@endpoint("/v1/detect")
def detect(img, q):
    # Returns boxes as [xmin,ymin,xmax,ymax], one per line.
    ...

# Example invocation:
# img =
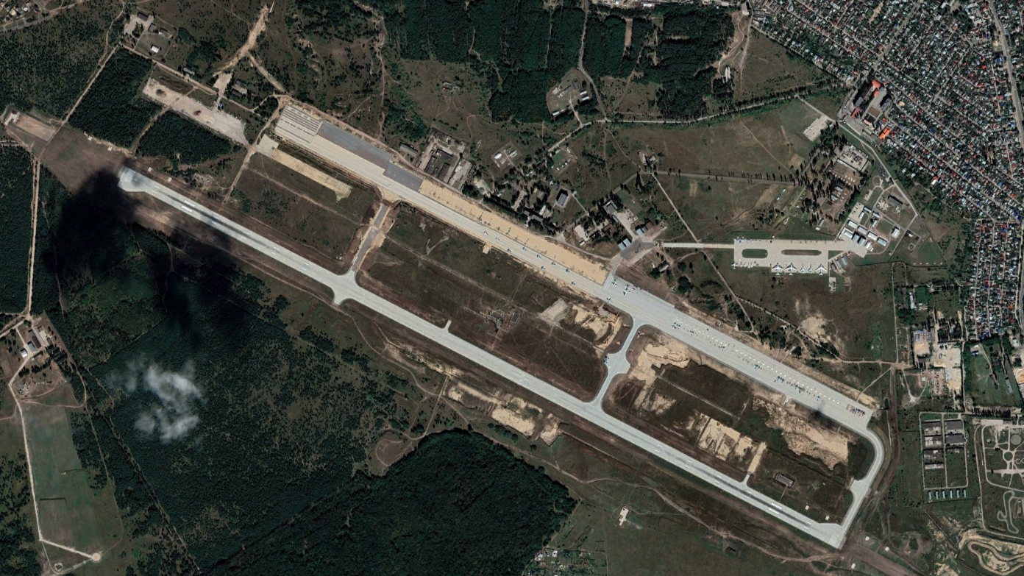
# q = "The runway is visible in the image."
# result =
[115,165,853,553]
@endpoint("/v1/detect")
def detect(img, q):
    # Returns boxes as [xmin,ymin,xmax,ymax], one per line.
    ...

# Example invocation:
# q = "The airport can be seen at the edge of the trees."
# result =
[115,78,884,553]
